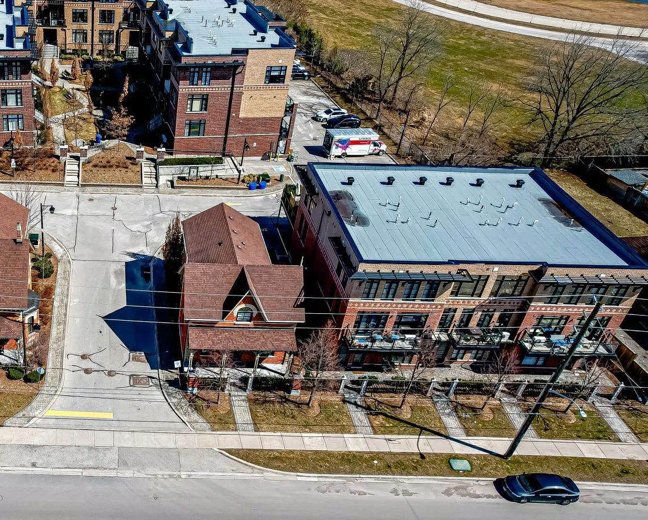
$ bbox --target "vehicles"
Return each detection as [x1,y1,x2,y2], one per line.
[498,474,579,510]
[315,106,350,122]
[294,67,317,82]
[327,115,364,129]
[326,128,393,159]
